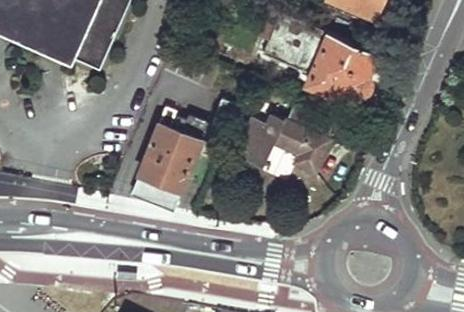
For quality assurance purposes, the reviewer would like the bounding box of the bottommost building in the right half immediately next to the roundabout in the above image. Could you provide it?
[246,114,334,176]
